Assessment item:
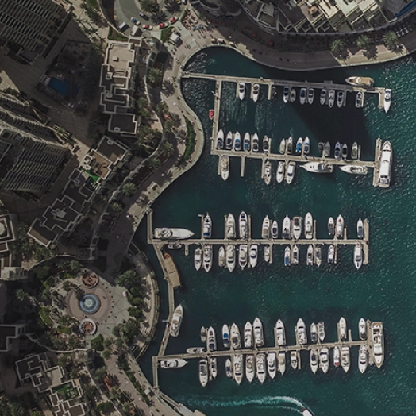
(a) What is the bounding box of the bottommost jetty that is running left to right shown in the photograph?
[151,322,374,390]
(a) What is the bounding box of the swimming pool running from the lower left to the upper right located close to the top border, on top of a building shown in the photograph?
[395,0,416,18]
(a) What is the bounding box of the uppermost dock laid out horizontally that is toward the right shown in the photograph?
[181,72,383,153]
